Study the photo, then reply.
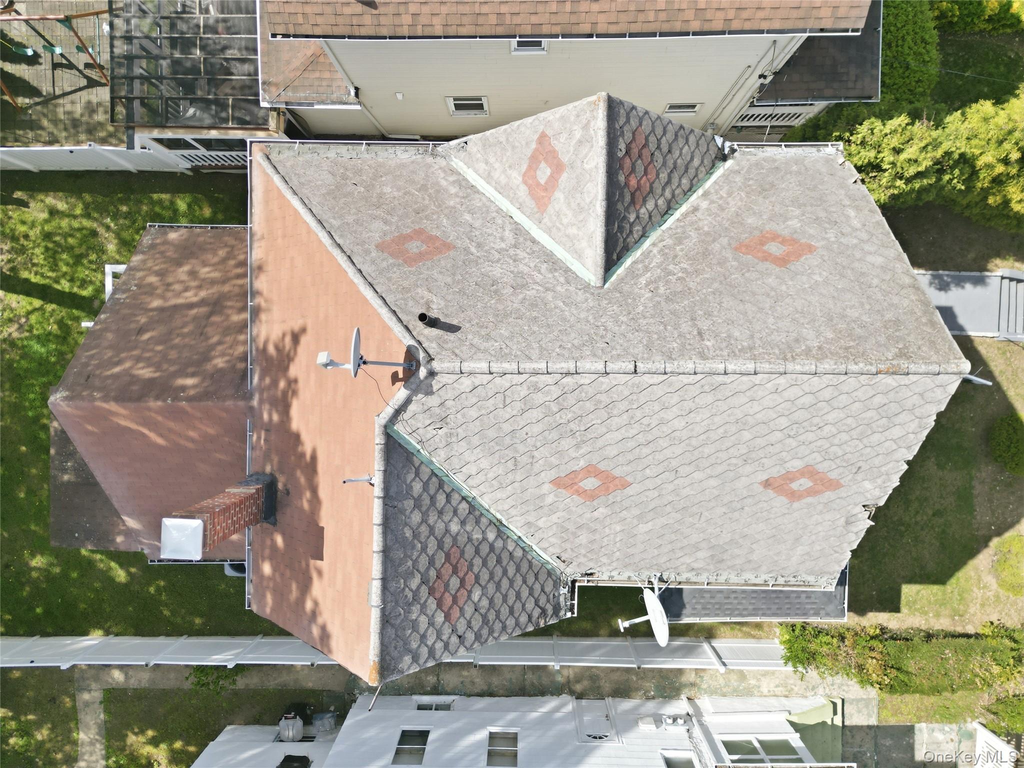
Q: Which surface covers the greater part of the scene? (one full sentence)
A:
The largest share of the image is taken up by buildings.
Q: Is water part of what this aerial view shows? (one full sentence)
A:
No, there's no water in this view.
